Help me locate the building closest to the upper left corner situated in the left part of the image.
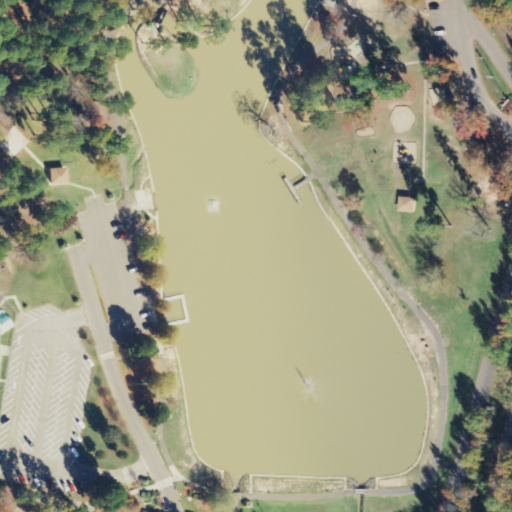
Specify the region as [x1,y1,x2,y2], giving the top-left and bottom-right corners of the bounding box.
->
[50,166,69,184]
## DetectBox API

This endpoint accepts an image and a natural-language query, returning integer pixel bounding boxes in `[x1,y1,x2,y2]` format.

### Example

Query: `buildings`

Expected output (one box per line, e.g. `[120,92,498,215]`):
[328,82,348,98]
[396,196,415,212]
[50,166,69,184]
[0,310,15,336]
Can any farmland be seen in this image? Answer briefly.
No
